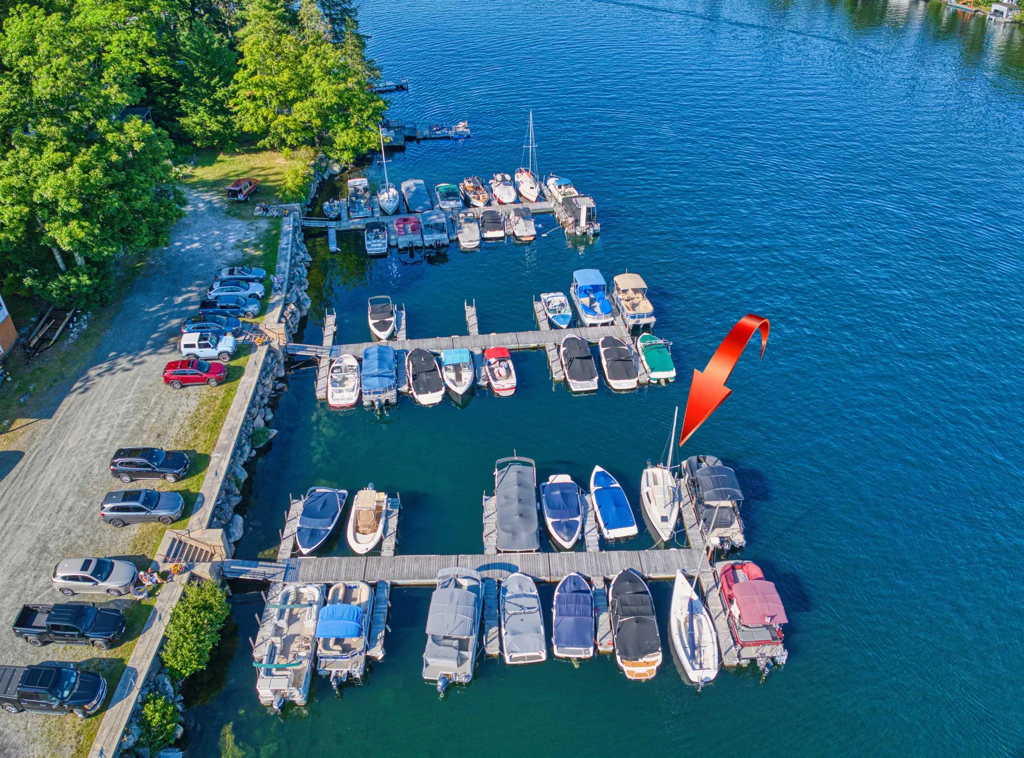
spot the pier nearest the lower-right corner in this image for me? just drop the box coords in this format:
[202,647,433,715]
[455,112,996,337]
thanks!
[699,576,746,669]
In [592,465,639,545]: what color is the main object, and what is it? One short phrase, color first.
blue boat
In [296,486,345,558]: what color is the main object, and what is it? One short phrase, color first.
blue boat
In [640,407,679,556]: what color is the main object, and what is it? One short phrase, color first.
white boat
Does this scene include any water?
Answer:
Yes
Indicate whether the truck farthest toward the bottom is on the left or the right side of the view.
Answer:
left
